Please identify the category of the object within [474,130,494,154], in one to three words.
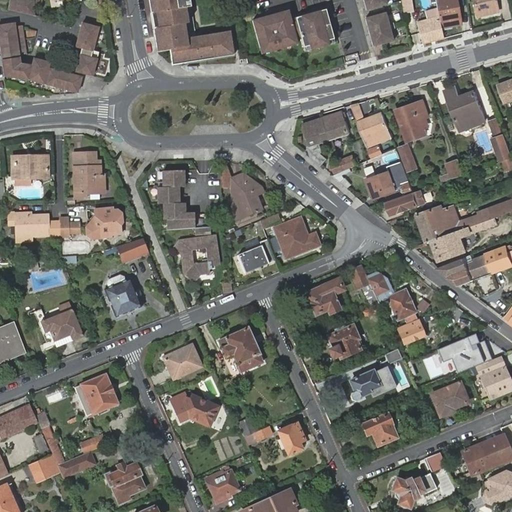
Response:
swimming pool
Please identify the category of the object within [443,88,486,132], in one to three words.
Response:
house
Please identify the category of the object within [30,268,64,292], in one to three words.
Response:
swimming pool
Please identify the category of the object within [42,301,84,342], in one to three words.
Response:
house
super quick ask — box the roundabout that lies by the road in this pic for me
[98,57,300,164]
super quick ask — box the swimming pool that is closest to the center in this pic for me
[203,376,220,397]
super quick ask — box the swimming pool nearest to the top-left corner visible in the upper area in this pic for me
[16,187,42,199]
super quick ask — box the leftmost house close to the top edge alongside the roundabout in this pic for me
[0,22,84,94]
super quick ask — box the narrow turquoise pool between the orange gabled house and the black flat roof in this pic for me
[380,149,400,165]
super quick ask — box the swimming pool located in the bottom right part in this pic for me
[394,364,409,388]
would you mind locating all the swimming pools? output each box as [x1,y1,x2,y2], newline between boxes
[474,130,494,154]
[380,149,400,165]
[30,268,64,292]
[16,187,42,199]
[420,0,433,10]
[203,376,220,397]
[394,364,409,388]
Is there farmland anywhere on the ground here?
No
